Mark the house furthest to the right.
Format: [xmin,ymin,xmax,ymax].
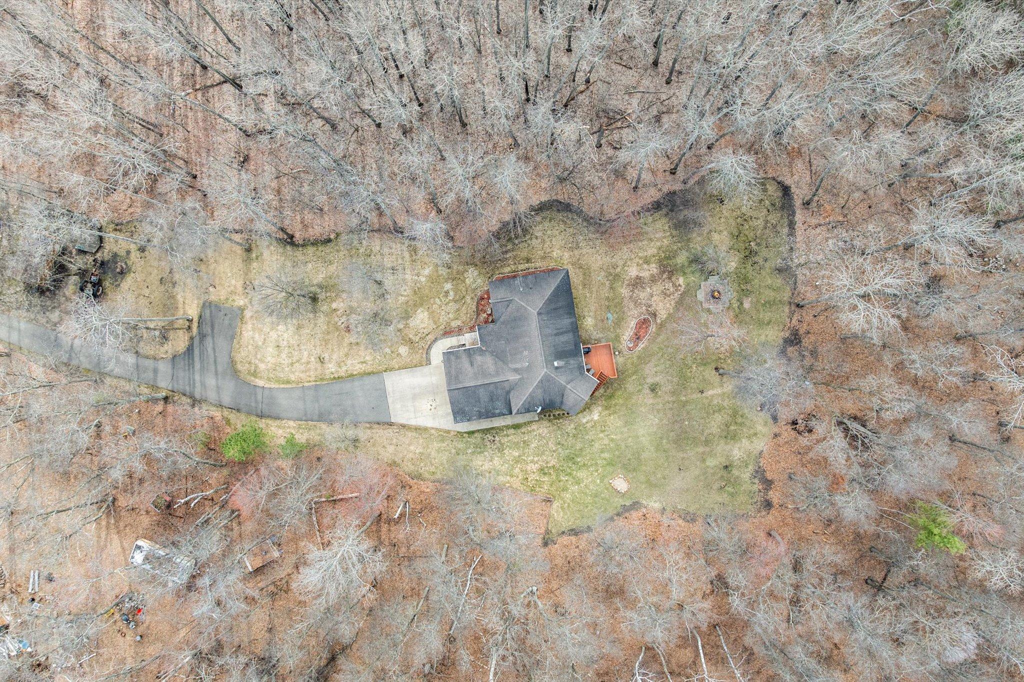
[442,268,599,424]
